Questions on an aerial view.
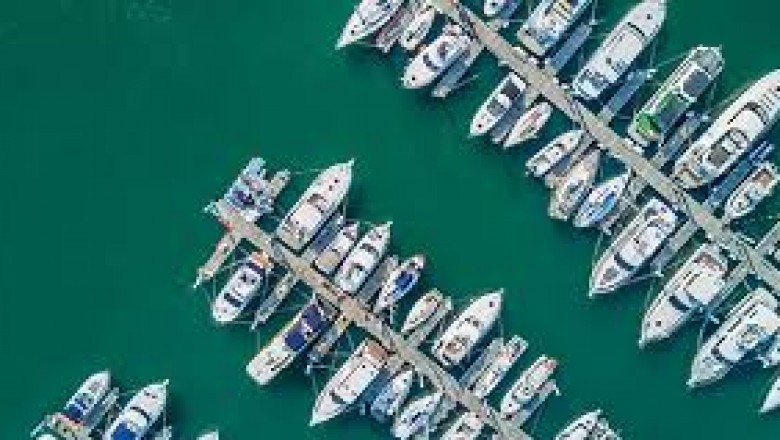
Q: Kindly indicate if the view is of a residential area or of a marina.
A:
marina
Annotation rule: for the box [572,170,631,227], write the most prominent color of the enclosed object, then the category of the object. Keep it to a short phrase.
white boat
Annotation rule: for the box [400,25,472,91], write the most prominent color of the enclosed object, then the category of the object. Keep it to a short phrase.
white boat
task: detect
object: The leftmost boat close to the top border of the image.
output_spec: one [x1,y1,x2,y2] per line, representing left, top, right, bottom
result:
[335,0,411,47]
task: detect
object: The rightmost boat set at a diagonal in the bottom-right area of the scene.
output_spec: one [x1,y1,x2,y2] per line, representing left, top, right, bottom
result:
[690,283,780,387]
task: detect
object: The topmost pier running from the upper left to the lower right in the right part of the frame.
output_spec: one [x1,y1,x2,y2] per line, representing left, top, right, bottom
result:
[422,0,780,293]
